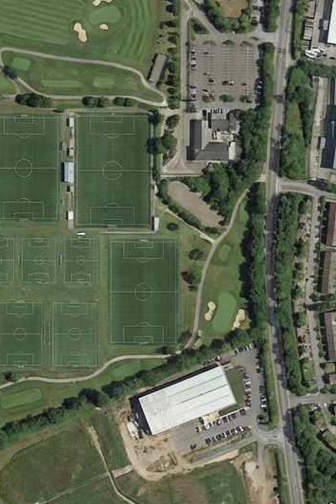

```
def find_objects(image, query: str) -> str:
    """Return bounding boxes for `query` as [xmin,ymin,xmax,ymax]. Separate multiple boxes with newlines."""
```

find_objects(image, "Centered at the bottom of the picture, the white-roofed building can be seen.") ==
[139,366,236,436]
